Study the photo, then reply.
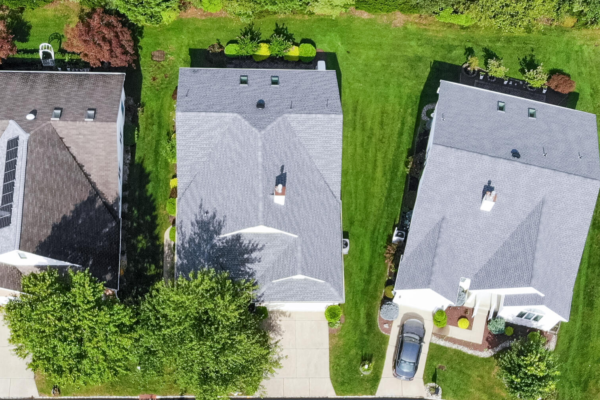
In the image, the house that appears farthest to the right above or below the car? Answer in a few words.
above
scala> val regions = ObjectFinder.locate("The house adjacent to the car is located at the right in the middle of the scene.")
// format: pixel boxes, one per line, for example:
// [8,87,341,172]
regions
[390,79,600,336]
